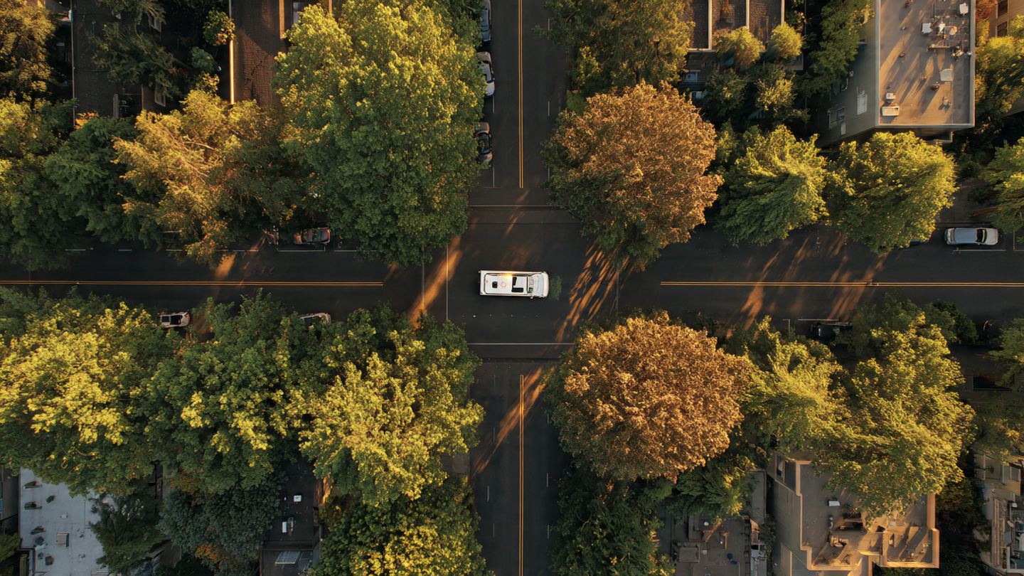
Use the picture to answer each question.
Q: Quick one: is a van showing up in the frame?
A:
Yes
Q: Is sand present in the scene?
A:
No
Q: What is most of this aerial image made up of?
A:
trees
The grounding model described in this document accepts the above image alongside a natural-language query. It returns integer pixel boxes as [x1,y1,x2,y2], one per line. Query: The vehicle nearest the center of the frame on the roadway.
[479,268,548,299]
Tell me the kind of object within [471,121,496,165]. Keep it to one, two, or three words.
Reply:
car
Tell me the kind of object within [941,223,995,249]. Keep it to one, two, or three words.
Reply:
car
